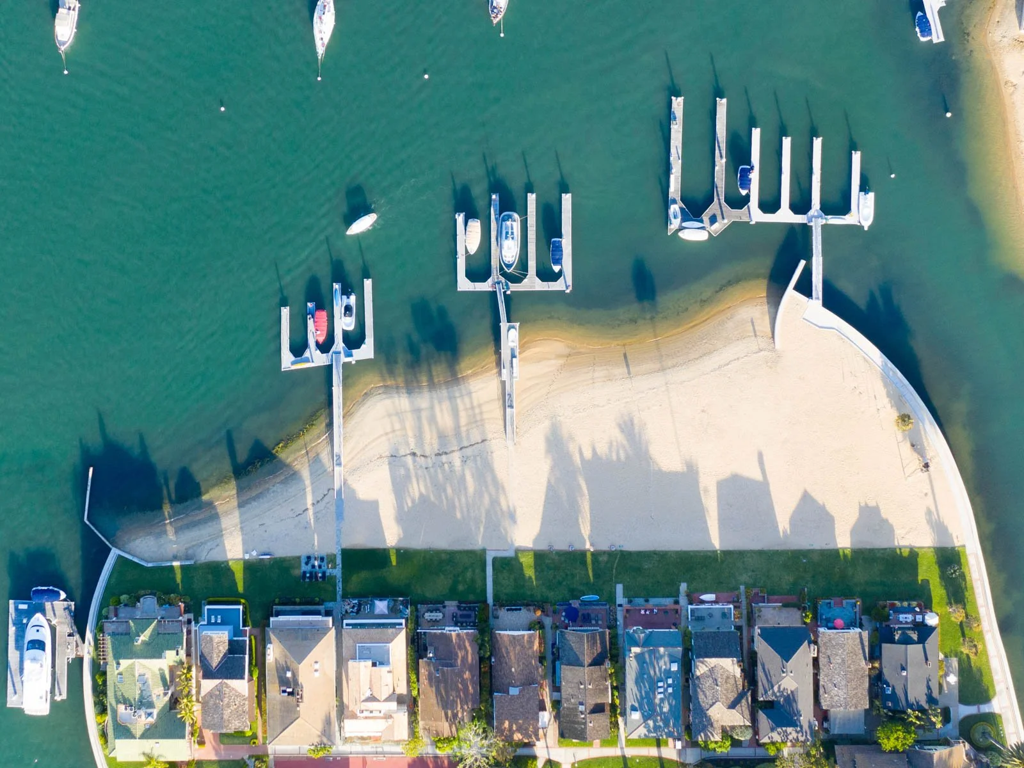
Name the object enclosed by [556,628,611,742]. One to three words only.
house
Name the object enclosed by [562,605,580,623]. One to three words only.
umbrella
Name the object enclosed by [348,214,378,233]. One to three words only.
boat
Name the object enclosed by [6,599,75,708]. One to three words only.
pier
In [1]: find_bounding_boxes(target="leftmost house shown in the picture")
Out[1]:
[107,616,195,762]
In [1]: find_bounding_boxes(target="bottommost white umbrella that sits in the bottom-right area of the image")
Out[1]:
[945,671,957,684]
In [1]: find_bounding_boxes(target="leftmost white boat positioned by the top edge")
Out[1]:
[56,0,84,52]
